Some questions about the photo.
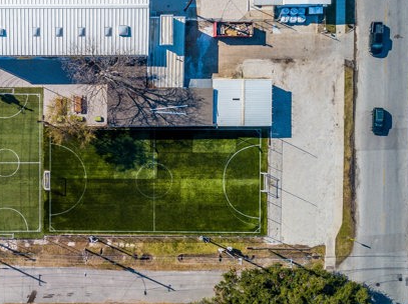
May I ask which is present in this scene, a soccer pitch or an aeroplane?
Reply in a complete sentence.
There is a soccer pitch in the scene.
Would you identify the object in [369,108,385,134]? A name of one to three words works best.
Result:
car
